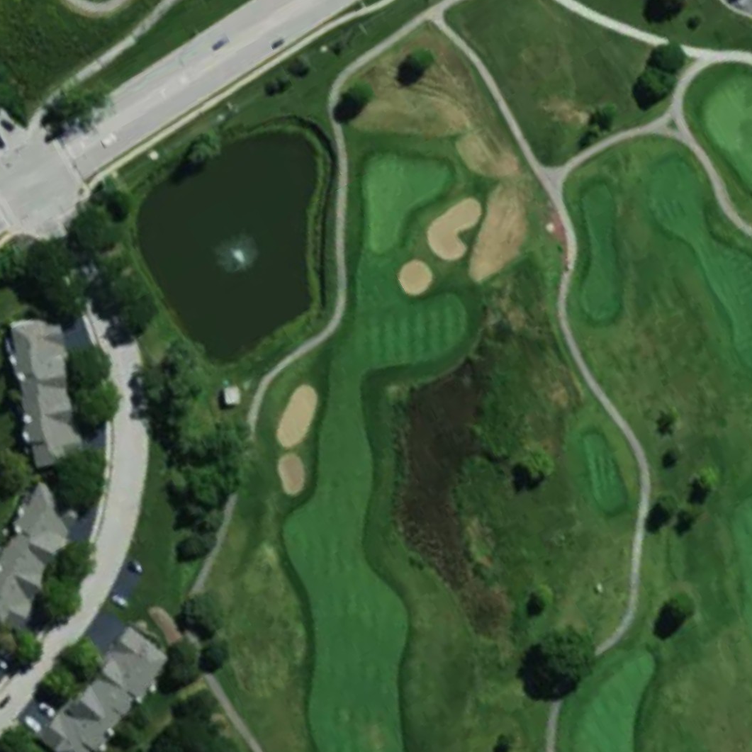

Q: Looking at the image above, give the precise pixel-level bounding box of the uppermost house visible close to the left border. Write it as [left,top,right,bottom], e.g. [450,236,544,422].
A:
[9,316,83,472]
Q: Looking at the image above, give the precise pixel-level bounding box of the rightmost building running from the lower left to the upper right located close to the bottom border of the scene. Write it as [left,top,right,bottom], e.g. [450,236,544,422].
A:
[40,628,163,752]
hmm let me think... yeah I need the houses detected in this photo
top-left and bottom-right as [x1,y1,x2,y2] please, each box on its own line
[0,478,68,632]
[9,316,83,472]
[40,628,163,752]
